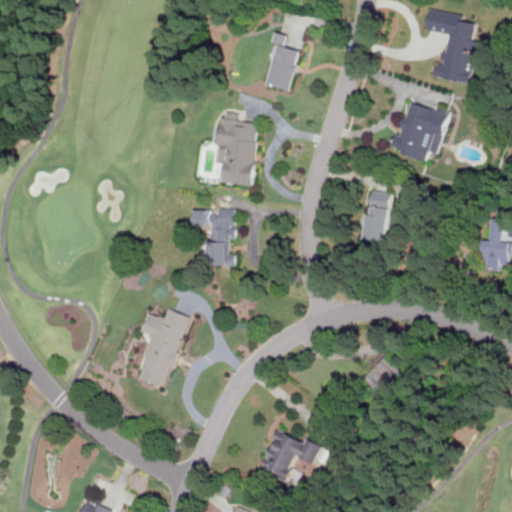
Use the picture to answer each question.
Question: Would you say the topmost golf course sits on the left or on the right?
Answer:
left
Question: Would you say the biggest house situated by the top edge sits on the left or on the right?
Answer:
right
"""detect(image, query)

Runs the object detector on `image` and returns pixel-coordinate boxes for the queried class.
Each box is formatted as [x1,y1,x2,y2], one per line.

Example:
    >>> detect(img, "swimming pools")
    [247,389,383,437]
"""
[455,140,487,166]
[197,142,222,184]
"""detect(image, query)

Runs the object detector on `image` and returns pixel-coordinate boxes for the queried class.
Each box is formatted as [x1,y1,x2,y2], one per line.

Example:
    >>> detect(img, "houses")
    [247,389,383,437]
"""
[426,8,478,82]
[265,32,300,90]
[192,209,238,267]
[366,354,399,393]
[480,212,512,271]
[84,502,114,512]
[391,103,452,161]
[214,112,258,187]
[140,310,190,387]
[261,430,330,485]
[361,190,394,241]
